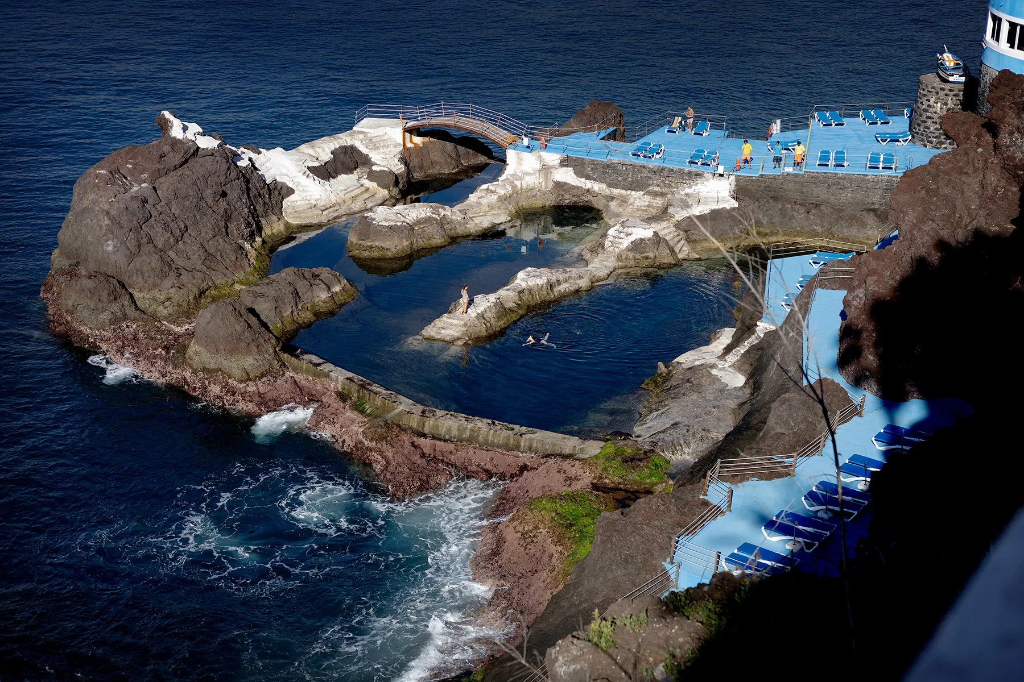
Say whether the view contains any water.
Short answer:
Yes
